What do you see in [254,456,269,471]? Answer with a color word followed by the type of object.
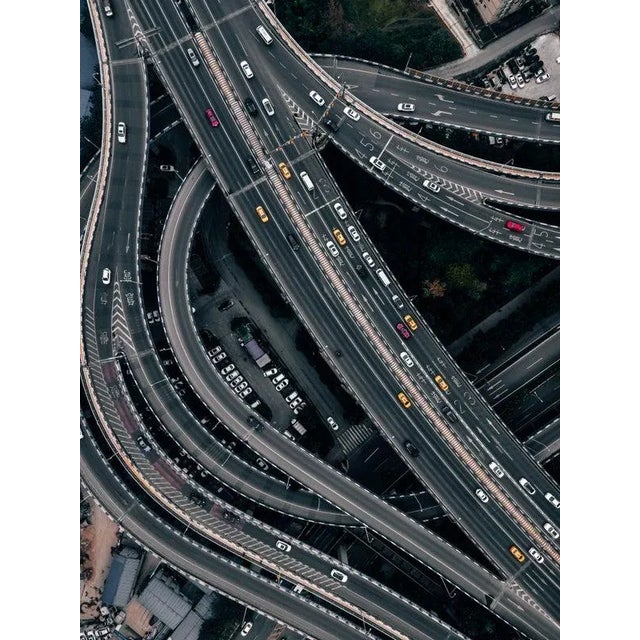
gray car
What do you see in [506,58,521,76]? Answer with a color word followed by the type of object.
black vehicle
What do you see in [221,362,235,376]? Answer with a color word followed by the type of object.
white vehicle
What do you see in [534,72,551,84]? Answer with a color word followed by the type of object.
white vehicle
